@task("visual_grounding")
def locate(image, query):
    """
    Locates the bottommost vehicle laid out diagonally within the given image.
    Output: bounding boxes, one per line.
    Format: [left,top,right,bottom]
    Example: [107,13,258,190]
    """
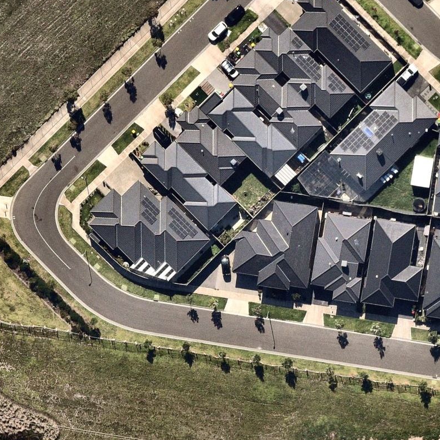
[153,125,172,148]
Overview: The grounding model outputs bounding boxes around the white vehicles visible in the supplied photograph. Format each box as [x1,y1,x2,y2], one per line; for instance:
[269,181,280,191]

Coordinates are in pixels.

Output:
[219,57,239,79]
[395,65,419,87]
[208,23,228,43]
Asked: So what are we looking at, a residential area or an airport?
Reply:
residential area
